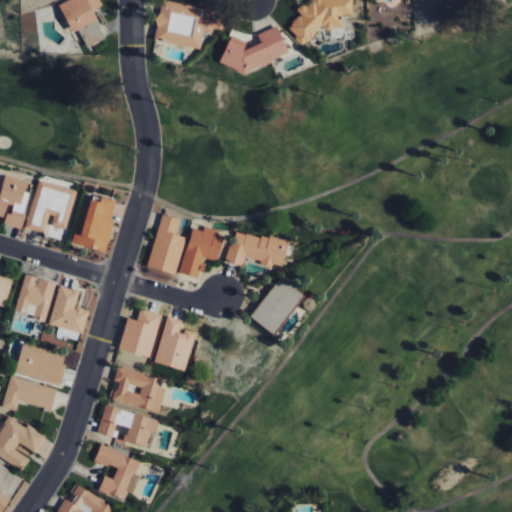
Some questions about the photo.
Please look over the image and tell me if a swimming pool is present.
Yes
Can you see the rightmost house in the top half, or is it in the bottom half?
top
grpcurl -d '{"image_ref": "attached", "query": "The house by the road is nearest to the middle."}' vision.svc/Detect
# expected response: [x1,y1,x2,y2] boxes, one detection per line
[226,232,294,270]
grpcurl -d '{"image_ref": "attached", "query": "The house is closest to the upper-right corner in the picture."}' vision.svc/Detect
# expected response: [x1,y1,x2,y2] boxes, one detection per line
[291,0,352,44]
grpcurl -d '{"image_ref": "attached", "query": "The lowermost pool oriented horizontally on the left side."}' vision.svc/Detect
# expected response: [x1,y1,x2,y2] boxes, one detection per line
[172,388,197,402]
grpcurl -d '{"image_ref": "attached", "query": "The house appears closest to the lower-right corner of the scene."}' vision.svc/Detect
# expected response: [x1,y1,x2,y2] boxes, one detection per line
[251,285,306,334]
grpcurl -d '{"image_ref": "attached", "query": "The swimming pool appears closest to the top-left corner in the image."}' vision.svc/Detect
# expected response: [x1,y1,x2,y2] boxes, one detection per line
[43,22,64,44]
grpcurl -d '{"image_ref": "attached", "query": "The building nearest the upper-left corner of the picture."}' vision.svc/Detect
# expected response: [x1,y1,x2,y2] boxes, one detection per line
[60,0,106,50]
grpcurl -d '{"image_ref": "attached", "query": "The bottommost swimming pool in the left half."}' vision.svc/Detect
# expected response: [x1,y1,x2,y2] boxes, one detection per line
[143,475,159,496]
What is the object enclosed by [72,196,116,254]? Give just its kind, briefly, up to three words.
house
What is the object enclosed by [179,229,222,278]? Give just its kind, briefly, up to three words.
house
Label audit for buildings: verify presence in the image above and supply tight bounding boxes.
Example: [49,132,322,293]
[251,285,306,334]
[0,465,24,512]
[3,376,57,412]
[72,196,116,254]
[16,274,57,323]
[221,27,288,75]
[147,215,186,276]
[0,175,30,229]
[26,176,78,240]
[119,311,162,358]
[179,229,222,278]
[60,485,108,512]
[291,0,352,44]
[16,344,66,386]
[98,405,156,448]
[0,416,45,469]
[0,278,13,308]
[49,286,89,342]
[60,0,106,50]
[154,316,197,370]
[155,1,224,50]
[112,367,166,413]
[95,444,140,502]
[226,232,294,270]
